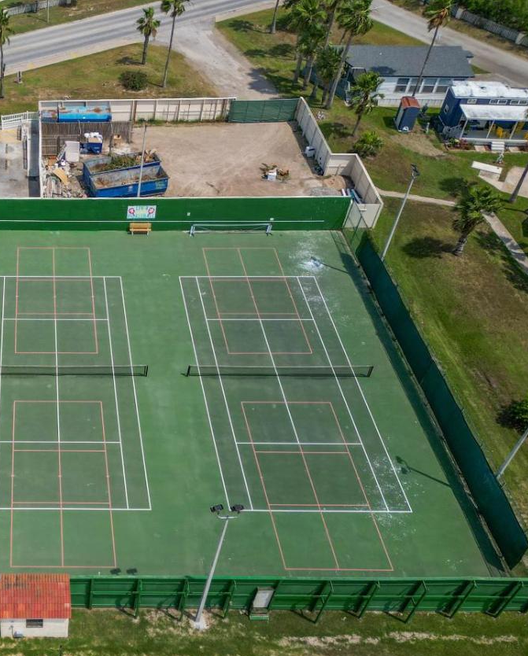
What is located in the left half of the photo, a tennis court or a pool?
tennis court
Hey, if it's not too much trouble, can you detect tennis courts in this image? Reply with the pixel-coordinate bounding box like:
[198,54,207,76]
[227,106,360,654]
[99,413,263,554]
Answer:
[0,246,153,568]
[181,247,411,569]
